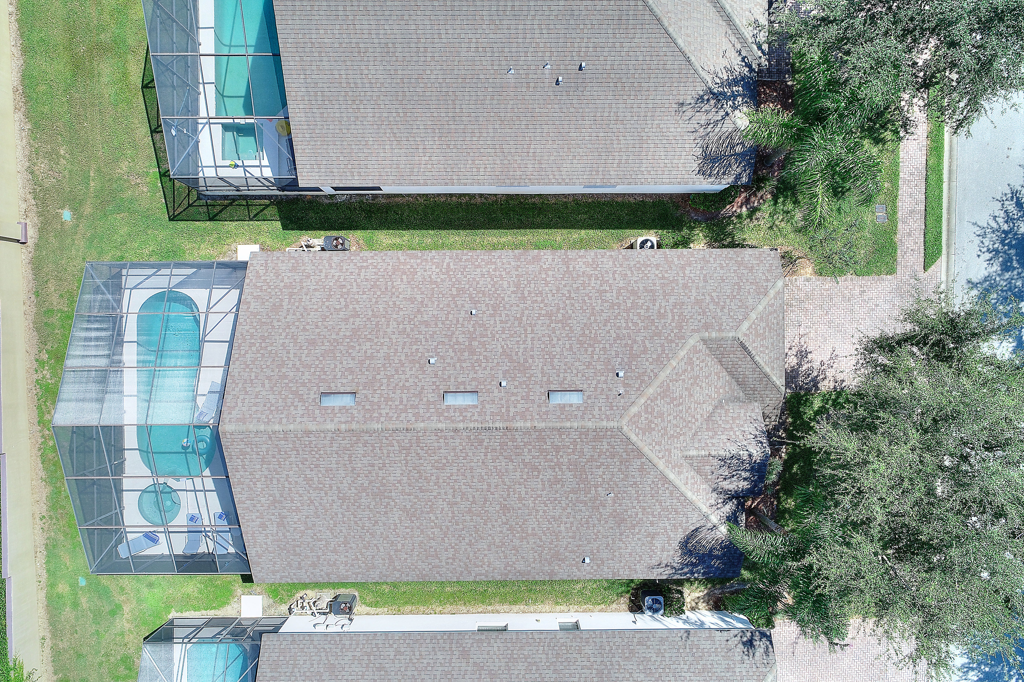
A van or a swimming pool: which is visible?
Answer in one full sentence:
I can see a swimming pool in this picture.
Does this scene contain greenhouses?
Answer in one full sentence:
No, no greenhouse is visible in the scene.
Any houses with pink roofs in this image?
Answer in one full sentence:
No, there is no house with a pink roof in the image.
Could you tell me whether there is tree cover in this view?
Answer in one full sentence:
Yes, tree cover shows up in the scene.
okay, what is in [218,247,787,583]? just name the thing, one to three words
house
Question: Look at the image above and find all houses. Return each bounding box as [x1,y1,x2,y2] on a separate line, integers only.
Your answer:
[272,0,769,194]
[218,247,787,583]
[256,611,780,682]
